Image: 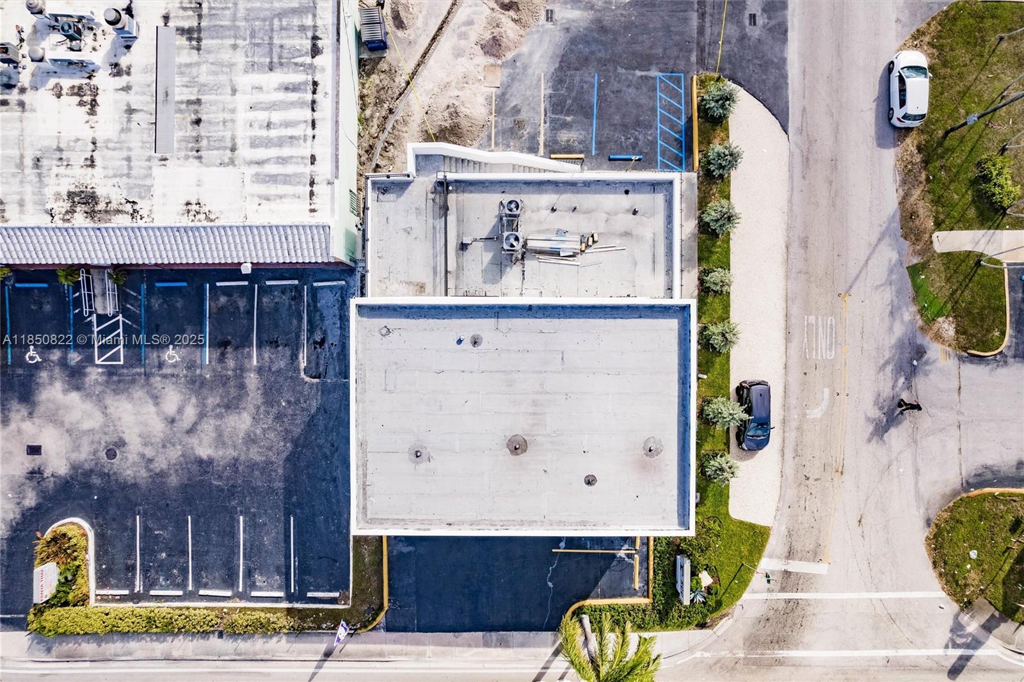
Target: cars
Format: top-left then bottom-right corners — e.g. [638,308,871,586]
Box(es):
[738,378,781,452]
[890,49,937,127]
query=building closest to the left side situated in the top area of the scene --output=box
[0,0,358,273]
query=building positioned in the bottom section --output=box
[351,298,695,535]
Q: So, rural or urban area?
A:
urban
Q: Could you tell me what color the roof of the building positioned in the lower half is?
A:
white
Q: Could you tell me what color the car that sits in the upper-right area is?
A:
white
